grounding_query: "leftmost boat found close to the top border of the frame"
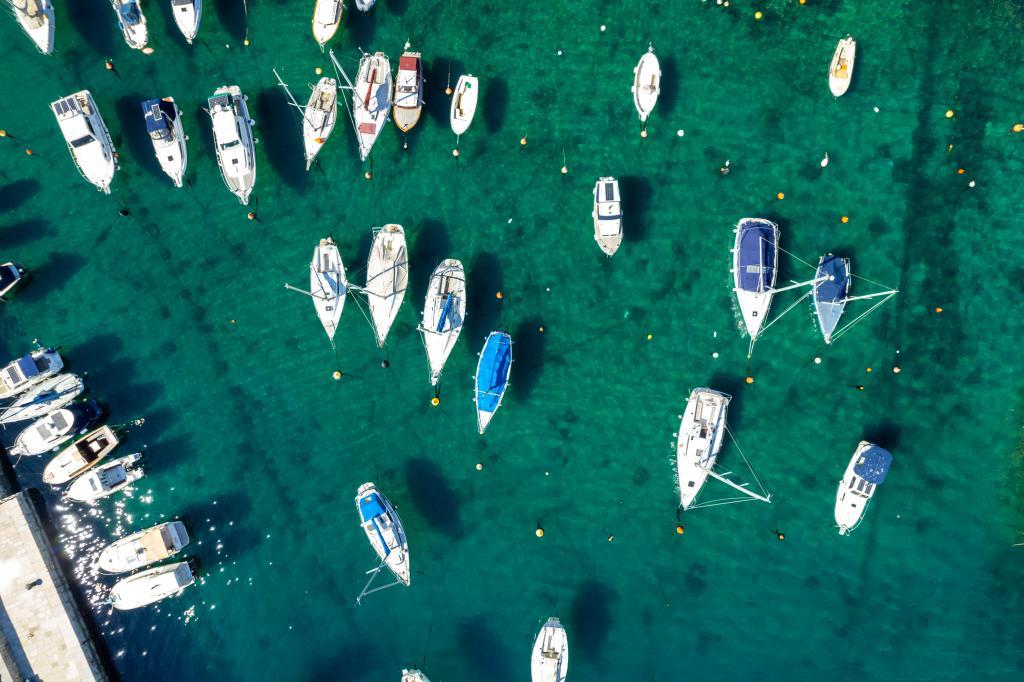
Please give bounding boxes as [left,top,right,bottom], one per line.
[5,0,55,55]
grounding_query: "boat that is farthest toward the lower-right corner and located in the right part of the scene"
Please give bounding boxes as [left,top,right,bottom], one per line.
[835,435,894,533]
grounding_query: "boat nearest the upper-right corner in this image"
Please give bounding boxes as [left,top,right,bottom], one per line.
[828,35,856,96]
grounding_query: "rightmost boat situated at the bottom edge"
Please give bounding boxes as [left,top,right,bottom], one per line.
[531,601,572,682]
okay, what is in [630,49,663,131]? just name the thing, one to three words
boat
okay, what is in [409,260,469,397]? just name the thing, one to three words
boat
